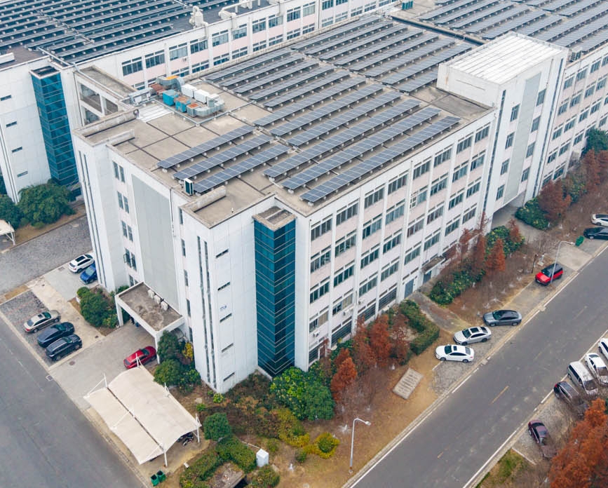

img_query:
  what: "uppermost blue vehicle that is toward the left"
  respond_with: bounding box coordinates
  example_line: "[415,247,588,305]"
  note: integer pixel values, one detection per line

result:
[76,264,102,285]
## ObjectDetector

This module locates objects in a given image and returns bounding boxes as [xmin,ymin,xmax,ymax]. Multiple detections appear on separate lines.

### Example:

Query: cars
[592,214,608,225]
[64,252,96,272]
[533,263,567,284]
[454,328,493,346]
[23,310,62,333]
[35,323,75,345]
[43,334,83,360]
[484,309,522,328]
[523,417,560,457]
[549,378,587,414]
[76,264,102,285]
[584,226,608,239]
[119,345,155,370]
[563,355,602,395]
[595,337,608,359]
[435,343,476,364]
